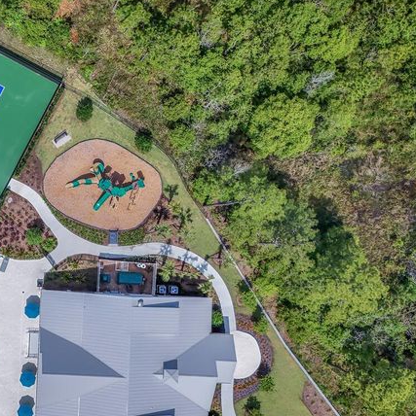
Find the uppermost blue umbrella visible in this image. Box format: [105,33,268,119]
[24,297,40,316]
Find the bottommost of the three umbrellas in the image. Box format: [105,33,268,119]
[17,403,35,416]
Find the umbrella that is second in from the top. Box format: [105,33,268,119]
[19,368,37,385]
